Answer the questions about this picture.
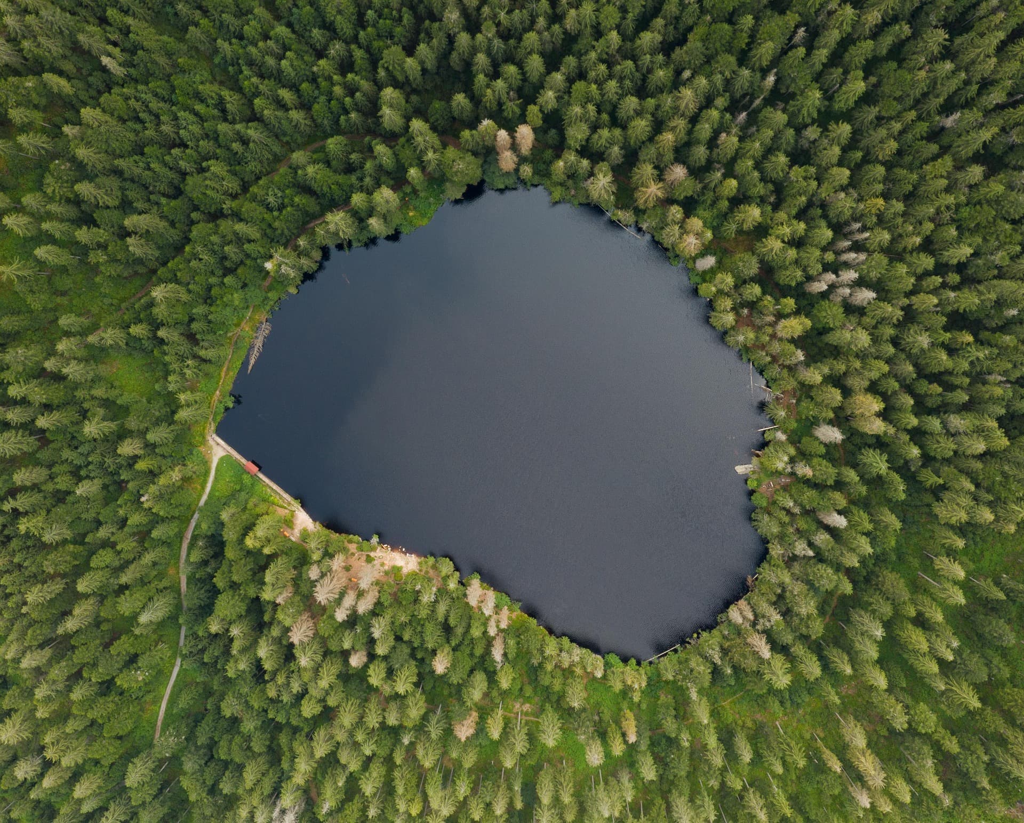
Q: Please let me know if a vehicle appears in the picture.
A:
No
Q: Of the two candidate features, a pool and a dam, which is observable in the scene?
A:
dam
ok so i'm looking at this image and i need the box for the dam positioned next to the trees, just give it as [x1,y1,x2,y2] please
[212,434,317,524]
